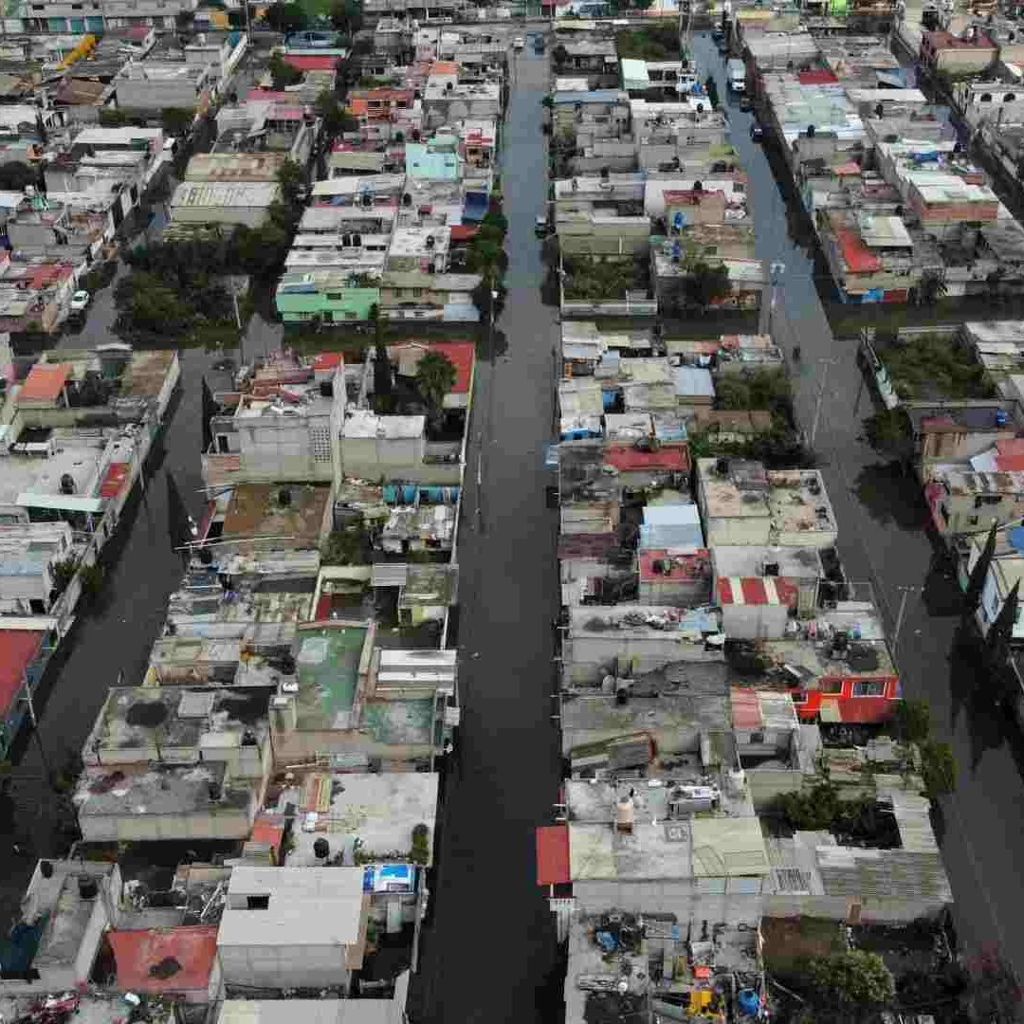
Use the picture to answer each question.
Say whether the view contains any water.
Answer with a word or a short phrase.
Yes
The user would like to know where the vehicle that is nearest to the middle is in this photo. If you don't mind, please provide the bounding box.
[535,214,548,231]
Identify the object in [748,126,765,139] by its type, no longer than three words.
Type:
vehicle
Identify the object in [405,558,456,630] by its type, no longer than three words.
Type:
house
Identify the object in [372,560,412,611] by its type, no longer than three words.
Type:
shed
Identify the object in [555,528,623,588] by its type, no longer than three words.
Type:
shed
